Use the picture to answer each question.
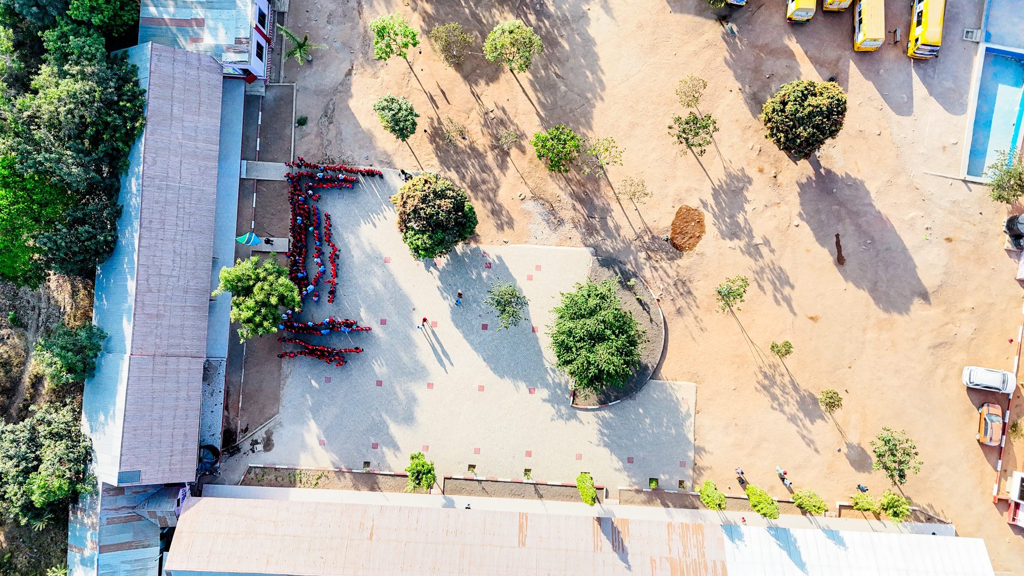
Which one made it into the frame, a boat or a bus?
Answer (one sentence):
Visible in the photo is a bus.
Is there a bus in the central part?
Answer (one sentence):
No, in the central part there is no bus.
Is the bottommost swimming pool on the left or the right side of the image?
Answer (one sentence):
The bottommost swimming pool sits on the right side.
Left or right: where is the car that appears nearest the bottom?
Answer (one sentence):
You can find the car that appears nearest the bottom on the right side of the picture.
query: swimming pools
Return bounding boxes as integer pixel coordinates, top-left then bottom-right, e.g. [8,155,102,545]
[963,44,1024,190]
[980,0,1024,47]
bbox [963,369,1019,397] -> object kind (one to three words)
car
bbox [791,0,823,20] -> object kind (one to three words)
bus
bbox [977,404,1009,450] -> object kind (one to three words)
car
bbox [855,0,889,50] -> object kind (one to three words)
bus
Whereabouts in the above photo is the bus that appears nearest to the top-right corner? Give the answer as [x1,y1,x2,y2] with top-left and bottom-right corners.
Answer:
[908,0,949,57]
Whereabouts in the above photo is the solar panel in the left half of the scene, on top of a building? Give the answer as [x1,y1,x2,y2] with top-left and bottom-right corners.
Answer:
[118,470,141,484]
